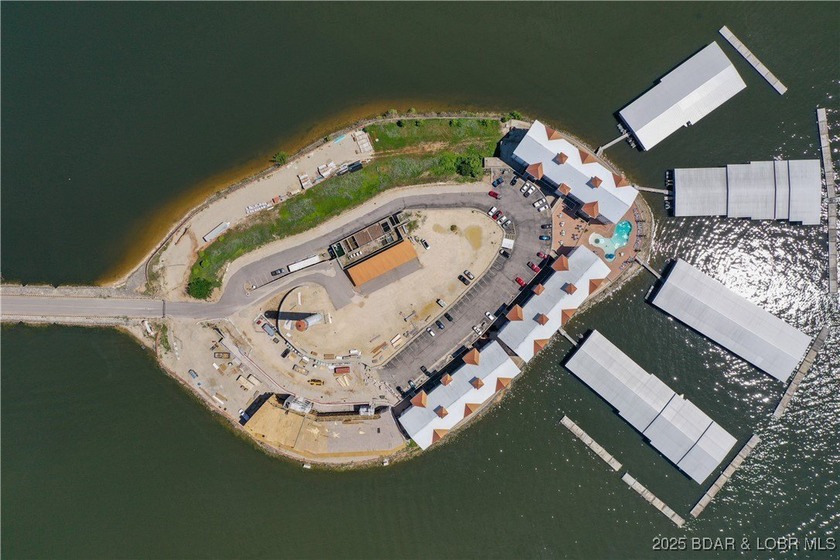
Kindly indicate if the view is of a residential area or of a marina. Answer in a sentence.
This image shows a marina.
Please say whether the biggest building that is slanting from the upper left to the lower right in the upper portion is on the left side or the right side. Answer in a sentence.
The biggest building that is slanting from the upper left to the lower right in the upper portion sits on the right side.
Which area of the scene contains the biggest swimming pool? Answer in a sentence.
You can find the biggest swimming pool in the right area of the picture.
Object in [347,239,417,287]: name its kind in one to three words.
shed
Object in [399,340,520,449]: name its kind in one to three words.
building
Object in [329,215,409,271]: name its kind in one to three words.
building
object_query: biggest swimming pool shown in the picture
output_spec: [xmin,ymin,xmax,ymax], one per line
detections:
[589,220,633,262]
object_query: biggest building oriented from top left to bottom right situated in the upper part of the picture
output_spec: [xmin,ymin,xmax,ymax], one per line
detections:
[513,121,638,224]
